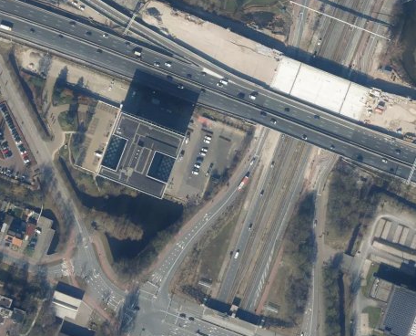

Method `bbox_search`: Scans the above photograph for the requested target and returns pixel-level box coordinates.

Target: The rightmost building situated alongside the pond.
[97,113,185,202]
